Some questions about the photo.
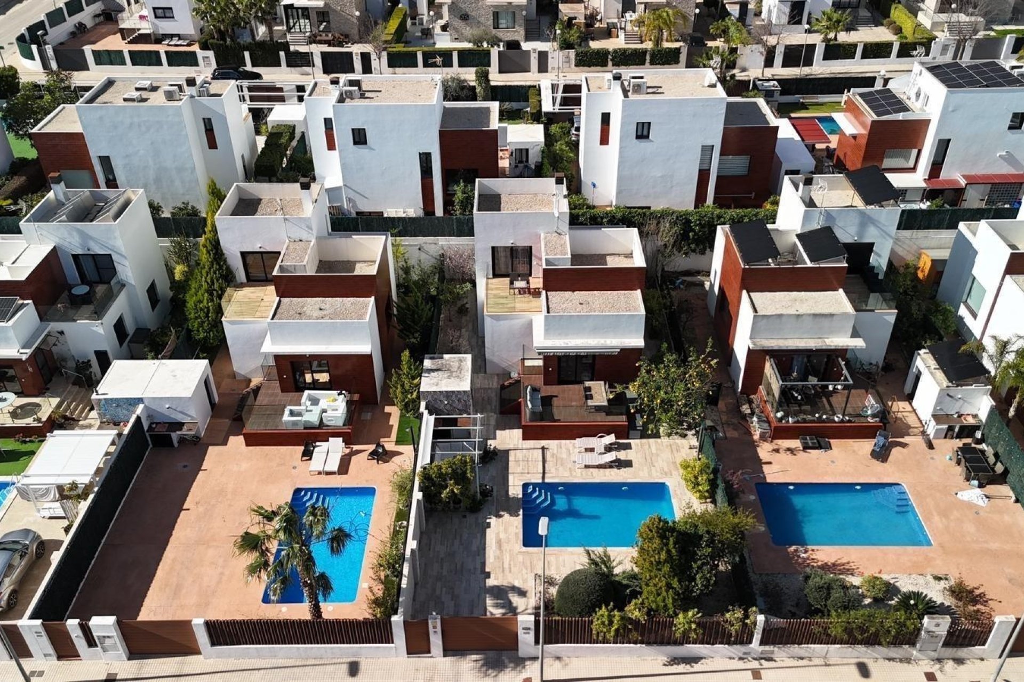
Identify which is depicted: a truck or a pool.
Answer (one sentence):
It is a pool that can be seen here.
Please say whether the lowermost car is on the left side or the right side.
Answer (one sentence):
It is on the left.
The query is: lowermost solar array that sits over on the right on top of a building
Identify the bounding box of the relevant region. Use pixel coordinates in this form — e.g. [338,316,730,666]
[857,90,917,118]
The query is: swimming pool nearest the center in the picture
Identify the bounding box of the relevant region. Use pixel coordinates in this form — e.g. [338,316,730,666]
[520,482,678,550]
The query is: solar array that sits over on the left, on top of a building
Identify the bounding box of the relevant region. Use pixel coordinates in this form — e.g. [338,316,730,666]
[0,299,26,329]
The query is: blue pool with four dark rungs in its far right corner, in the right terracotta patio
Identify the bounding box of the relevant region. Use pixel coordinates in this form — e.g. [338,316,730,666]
[754,482,935,548]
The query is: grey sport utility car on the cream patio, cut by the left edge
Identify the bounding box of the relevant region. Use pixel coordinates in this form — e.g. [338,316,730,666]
[0,530,42,613]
